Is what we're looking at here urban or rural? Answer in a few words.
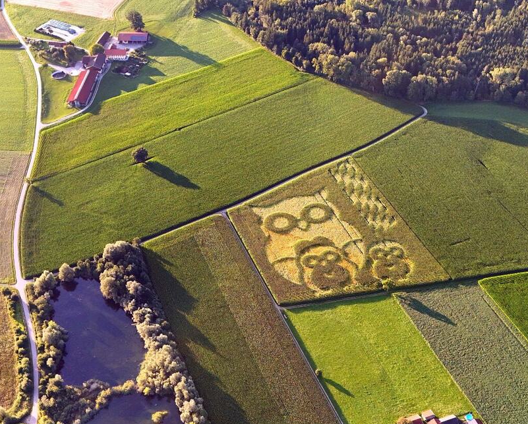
rural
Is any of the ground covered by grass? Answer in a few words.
Yes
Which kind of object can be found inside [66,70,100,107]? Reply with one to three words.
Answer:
barn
